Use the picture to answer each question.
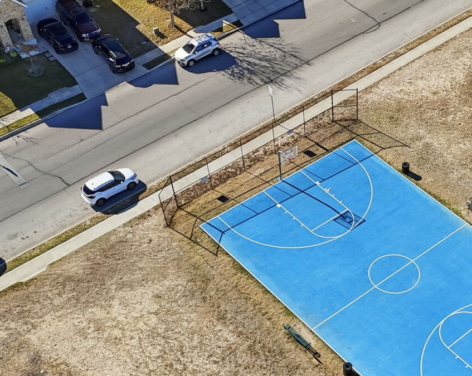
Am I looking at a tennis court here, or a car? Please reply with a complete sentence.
There is a car in the scene.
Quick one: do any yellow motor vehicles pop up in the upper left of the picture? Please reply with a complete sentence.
No, in the upper left of the picture there is no yellow motor vehicle.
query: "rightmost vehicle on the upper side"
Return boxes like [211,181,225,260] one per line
[173,32,221,67]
